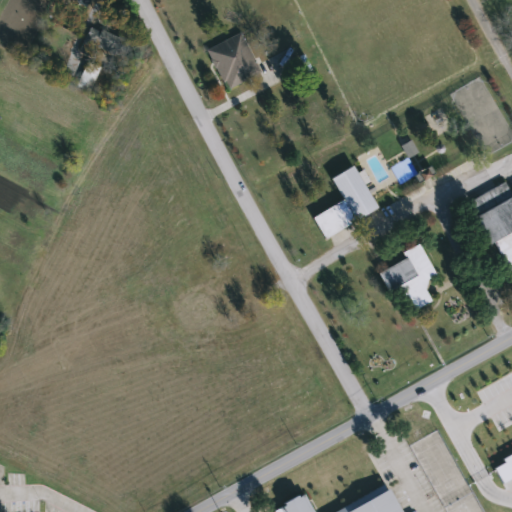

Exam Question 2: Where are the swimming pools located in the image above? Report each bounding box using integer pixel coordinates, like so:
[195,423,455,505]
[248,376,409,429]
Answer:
[358,148,394,194]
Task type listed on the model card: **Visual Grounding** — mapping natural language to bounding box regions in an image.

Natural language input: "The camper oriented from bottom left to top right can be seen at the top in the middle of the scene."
[278,47,294,66]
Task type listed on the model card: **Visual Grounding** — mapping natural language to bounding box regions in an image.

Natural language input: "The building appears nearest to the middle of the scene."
[314,166,380,239]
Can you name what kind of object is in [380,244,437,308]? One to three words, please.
house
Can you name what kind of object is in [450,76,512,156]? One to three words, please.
sports court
